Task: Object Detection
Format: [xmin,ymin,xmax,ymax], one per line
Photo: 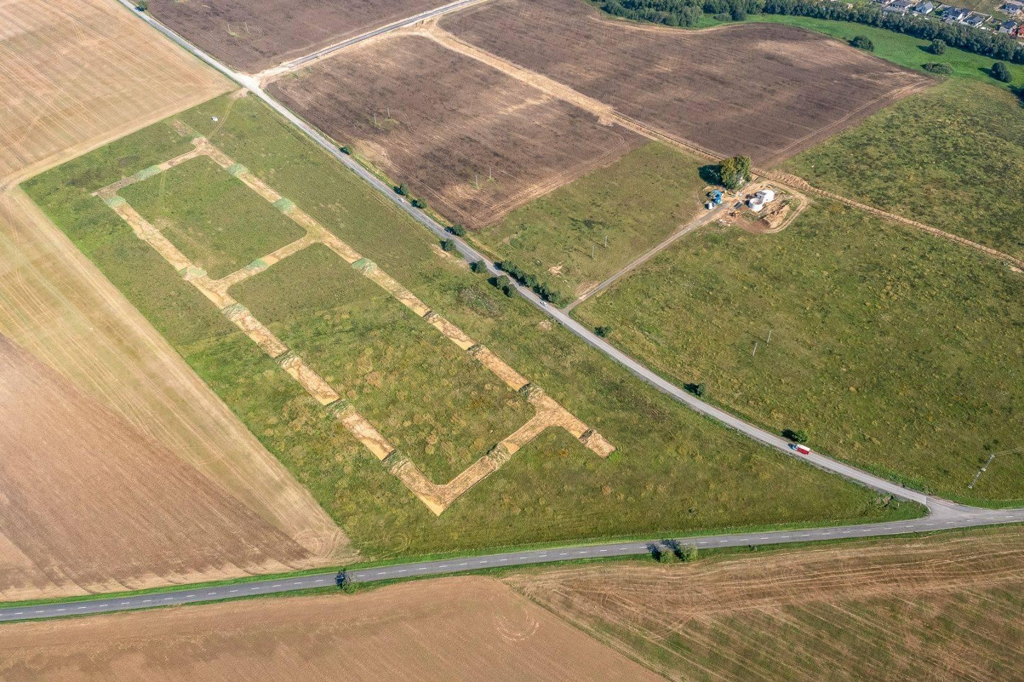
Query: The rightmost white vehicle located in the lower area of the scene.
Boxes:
[792,442,810,454]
